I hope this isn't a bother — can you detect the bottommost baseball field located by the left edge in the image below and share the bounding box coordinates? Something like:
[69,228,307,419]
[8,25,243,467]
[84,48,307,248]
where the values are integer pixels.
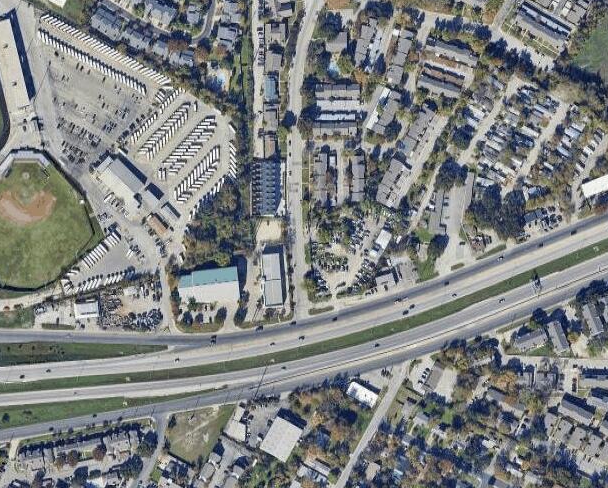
[0,159,101,290]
